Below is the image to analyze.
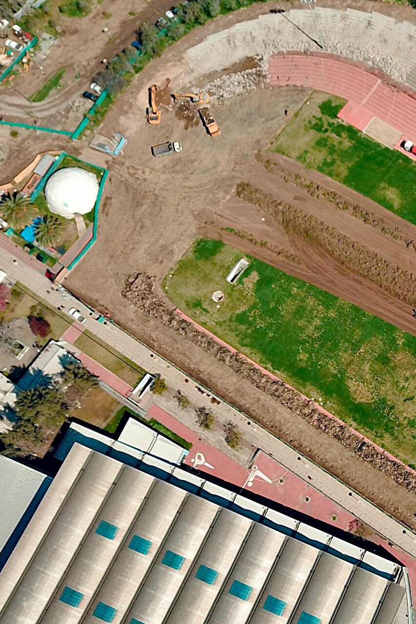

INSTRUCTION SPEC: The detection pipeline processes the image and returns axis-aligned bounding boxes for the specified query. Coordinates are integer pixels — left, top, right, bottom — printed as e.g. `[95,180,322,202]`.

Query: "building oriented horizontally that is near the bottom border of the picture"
[0,422,414,624]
